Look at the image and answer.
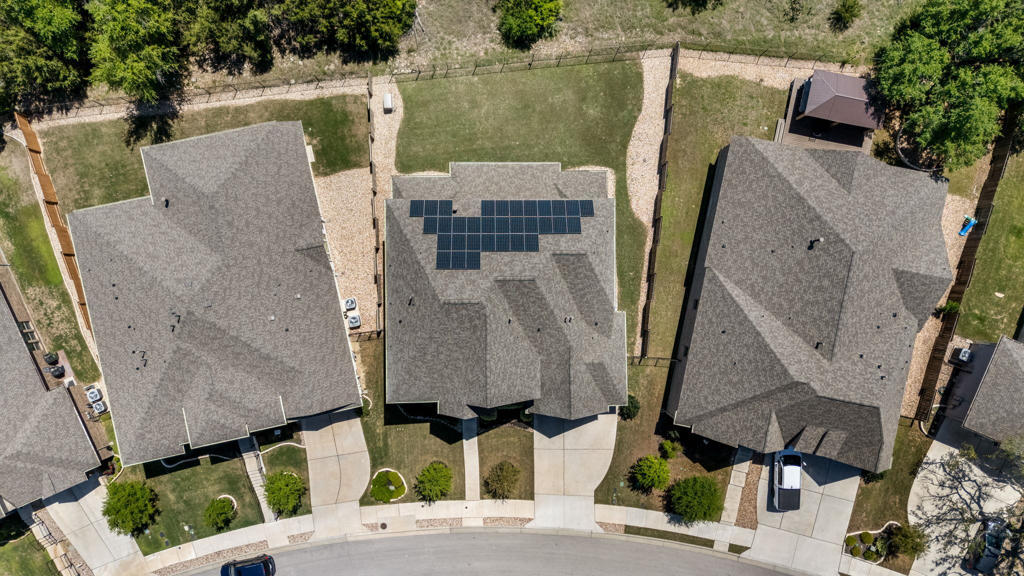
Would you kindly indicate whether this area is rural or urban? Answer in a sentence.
From above, the setting appears urban.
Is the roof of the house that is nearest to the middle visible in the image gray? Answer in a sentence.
Yes, the roof of the house that is nearest to the middle is gray.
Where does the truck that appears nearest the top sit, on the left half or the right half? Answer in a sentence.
The truck that appears nearest the top sits on the right side.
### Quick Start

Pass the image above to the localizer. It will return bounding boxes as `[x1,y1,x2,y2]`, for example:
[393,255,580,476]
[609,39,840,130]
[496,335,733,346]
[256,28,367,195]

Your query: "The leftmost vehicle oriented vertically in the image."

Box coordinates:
[773,442,806,510]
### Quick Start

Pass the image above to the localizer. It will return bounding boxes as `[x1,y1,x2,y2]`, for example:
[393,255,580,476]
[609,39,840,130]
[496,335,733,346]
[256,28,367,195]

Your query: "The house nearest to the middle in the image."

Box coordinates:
[384,161,628,419]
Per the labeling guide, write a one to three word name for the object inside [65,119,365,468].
house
